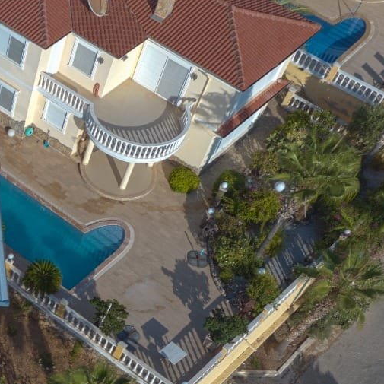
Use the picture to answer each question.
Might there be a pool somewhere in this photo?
Yes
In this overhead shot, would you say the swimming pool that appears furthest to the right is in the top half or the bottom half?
top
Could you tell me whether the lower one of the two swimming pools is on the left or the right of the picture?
left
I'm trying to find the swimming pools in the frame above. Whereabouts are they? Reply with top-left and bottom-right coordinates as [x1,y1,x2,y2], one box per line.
[0,166,140,298]
[306,11,376,67]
